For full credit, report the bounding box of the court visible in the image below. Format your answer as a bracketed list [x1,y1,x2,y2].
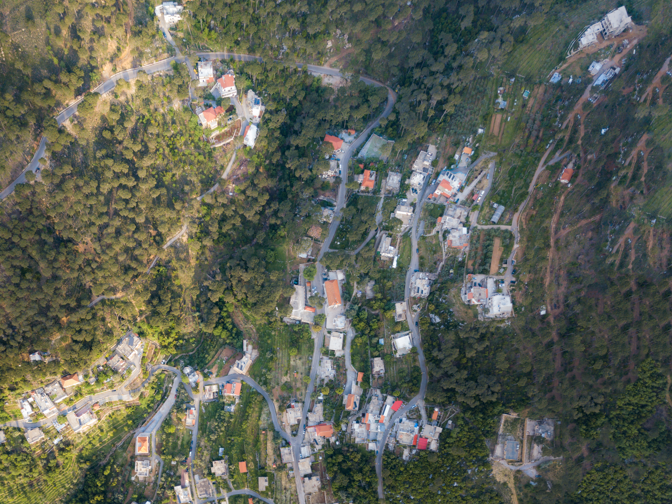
[357,135,395,162]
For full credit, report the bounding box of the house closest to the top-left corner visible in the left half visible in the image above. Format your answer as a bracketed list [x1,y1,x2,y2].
[155,2,185,26]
